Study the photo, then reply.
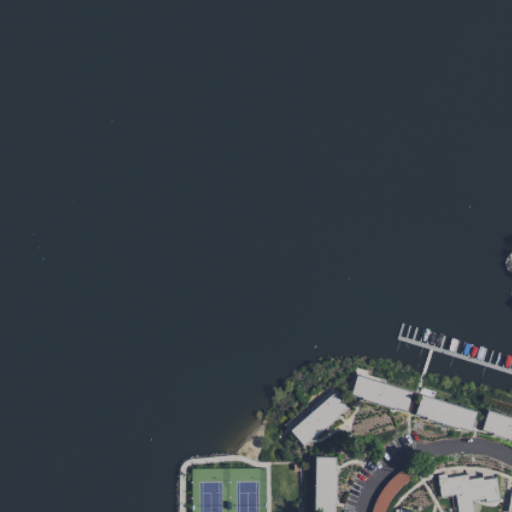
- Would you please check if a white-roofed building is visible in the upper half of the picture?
No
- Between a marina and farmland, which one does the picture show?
marina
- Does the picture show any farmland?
No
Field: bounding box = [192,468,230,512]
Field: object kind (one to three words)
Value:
tennis court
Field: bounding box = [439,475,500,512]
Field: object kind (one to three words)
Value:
building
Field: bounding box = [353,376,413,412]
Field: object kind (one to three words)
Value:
building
